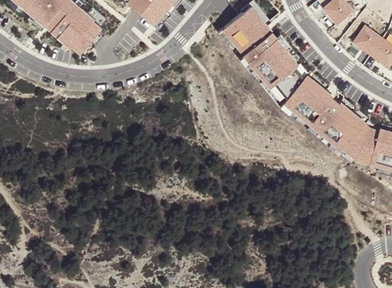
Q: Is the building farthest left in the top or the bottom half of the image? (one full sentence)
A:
You can find the building farthest left in the top half.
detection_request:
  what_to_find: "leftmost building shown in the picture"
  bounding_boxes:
[6,0,106,54]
